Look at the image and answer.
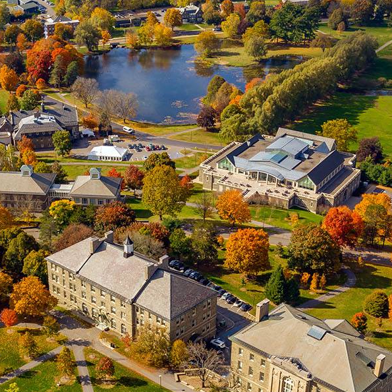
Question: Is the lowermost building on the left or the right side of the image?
right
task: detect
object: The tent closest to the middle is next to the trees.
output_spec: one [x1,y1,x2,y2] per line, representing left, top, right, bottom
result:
[87,146,124,161]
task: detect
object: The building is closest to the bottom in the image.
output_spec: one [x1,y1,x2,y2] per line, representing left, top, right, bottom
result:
[227,300,392,392]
